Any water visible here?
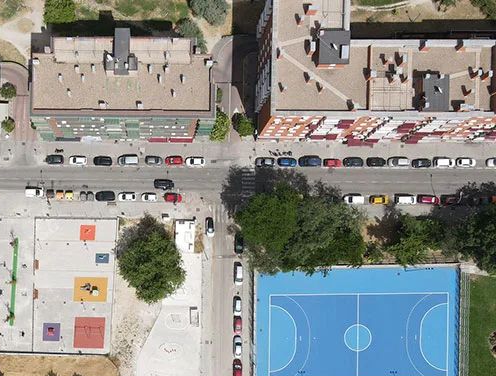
No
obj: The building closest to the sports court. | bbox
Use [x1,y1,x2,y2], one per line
[176,220,195,254]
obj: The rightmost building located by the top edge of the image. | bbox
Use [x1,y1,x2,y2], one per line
[253,0,496,145]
